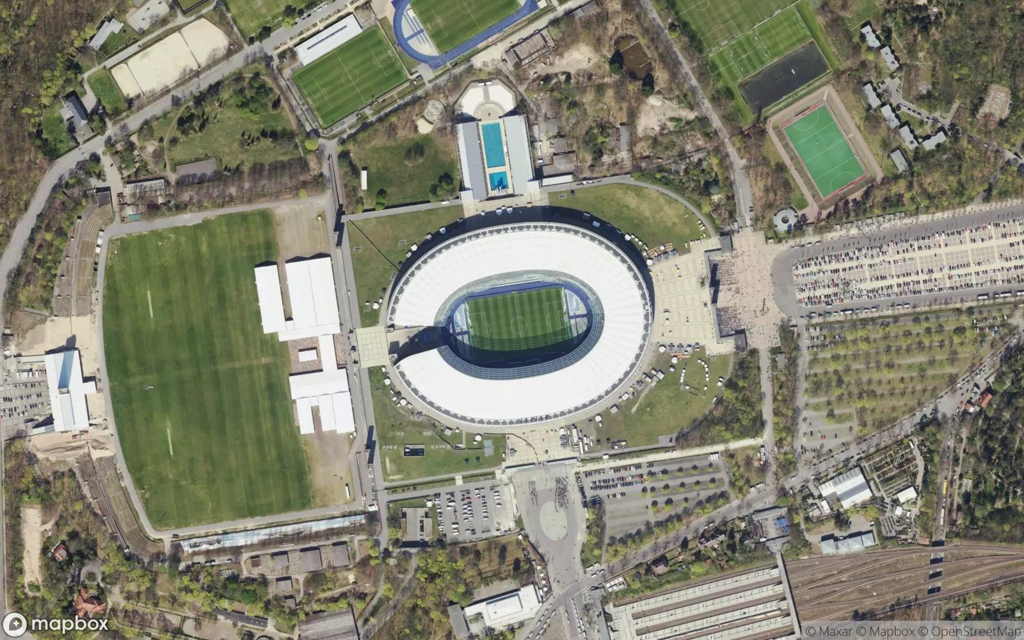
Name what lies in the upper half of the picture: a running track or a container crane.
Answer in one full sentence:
It is a running track that can be seen in the upper half of the picture.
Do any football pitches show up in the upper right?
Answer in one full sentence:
Yes, a football pitch shows up in the upper right.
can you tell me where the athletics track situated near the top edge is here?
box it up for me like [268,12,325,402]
[393,0,547,74]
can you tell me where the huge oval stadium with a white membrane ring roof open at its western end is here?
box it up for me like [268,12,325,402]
[385,221,654,428]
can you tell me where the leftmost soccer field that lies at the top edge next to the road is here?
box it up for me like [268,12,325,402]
[293,24,408,127]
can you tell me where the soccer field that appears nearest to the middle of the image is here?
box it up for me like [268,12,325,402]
[465,286,573,365]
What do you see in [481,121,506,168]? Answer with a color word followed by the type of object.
blue swimming pool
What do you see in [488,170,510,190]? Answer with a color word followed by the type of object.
blue swimming pool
